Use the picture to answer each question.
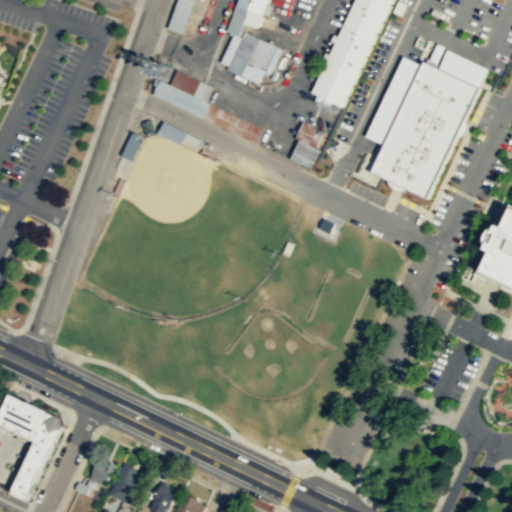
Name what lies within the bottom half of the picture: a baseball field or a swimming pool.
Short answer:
baseball field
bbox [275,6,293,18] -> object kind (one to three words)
vehicle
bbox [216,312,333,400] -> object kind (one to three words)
baseball field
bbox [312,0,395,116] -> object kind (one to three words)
building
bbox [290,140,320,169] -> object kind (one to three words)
shed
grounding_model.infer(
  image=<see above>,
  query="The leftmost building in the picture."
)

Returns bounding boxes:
[0,392,62,504]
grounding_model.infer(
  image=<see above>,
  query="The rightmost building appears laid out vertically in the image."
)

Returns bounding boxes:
[477,204,512,290]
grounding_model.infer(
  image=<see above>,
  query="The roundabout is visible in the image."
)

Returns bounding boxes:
[481,364,512,436]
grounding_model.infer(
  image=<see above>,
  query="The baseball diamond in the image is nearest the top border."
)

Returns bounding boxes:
[78,134,304,328]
